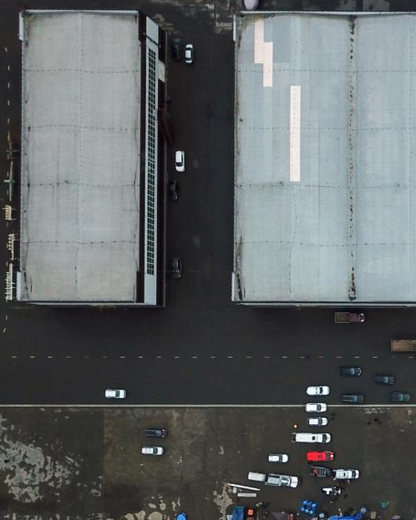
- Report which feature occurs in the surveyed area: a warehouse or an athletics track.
warehouse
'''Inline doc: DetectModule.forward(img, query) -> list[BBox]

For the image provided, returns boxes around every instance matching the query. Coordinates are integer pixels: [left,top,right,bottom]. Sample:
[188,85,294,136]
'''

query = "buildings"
[13,9,168,307]
[229,10,416,309]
